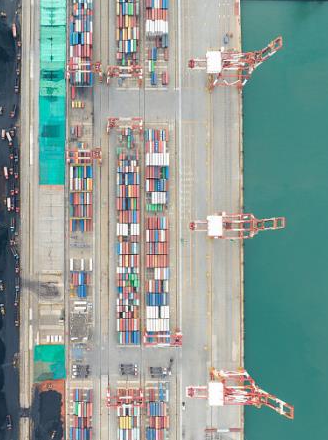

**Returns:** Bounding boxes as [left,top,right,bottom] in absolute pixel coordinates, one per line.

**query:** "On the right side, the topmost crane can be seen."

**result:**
[187,34,283,96]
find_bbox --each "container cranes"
[144,330,187,345]
[188,365,293,419]
[188,214,286,240]
[107,66,145,85]
[107,389,146,407]
[65,63,102,81]
[187,34,283,96]
[107,118,145,133]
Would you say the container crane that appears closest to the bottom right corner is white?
Yes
